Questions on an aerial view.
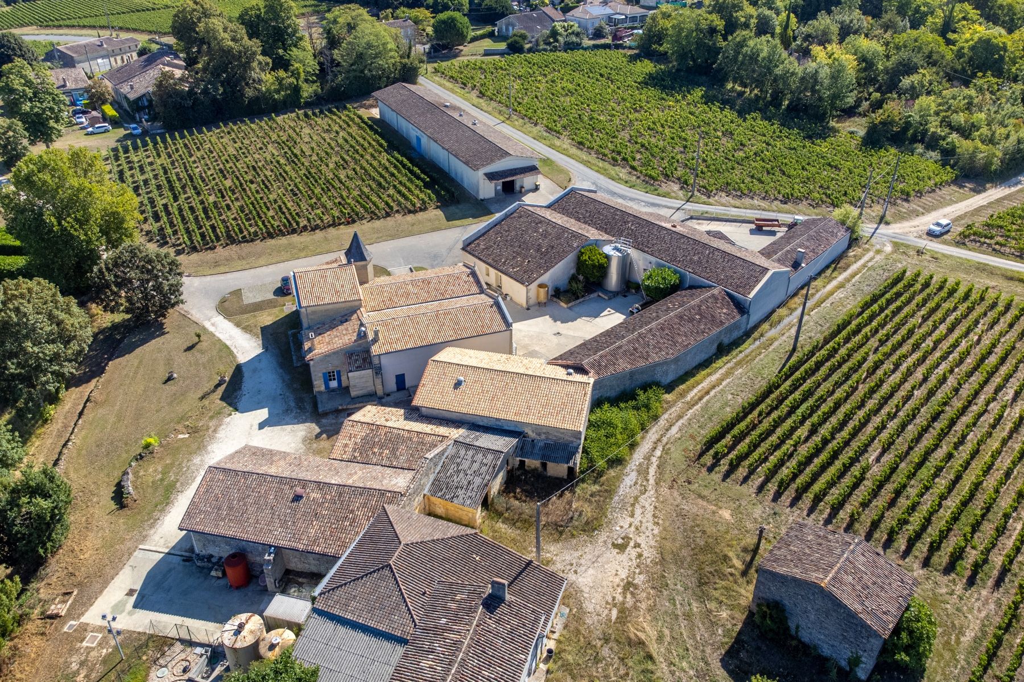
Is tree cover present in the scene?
Yes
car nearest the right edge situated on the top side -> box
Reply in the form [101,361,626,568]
[927,218,954,235]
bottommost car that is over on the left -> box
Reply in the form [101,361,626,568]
[278,273,293,292]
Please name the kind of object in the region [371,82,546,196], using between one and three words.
building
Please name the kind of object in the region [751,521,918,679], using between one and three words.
barn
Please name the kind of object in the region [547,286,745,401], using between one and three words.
shed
